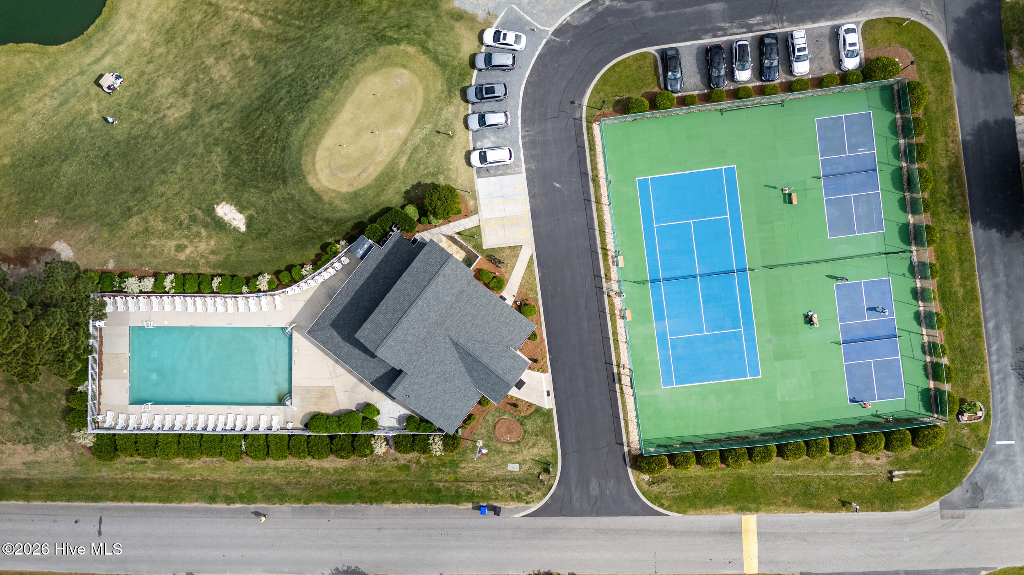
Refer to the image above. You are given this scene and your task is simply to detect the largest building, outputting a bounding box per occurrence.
[305,230,537,434]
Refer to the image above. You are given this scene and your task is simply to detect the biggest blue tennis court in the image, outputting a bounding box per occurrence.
[637,165,761,388]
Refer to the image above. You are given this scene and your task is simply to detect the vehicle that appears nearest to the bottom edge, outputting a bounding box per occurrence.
[470,146,513,167]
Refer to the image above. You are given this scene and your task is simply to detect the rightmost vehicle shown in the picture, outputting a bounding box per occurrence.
[836,25,861,70]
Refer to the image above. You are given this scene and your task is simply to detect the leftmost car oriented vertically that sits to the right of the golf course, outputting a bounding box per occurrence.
[662,48,685,92]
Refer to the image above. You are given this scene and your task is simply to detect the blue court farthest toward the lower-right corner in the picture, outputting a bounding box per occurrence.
[835,278,905,405]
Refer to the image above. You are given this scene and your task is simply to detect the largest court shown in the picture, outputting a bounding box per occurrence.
[599,86,931,448]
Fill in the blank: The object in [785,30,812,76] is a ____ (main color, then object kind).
white car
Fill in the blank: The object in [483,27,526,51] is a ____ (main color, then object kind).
white car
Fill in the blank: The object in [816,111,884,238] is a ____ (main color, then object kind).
blue sports court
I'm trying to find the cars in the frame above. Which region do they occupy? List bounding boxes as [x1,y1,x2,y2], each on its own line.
[474,50,515,72]
[470,146,513,167]
[483,27,526,51]
[836,25,861,70]
[757,34,782,80]
[662,48,685,92]
[466,82,508,104]
[467,110,510,131]
[785,30,812,76]
[705,45,729,88]
[730,40,753,82]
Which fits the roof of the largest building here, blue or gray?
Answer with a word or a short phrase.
gray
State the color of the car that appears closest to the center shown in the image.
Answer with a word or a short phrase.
white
